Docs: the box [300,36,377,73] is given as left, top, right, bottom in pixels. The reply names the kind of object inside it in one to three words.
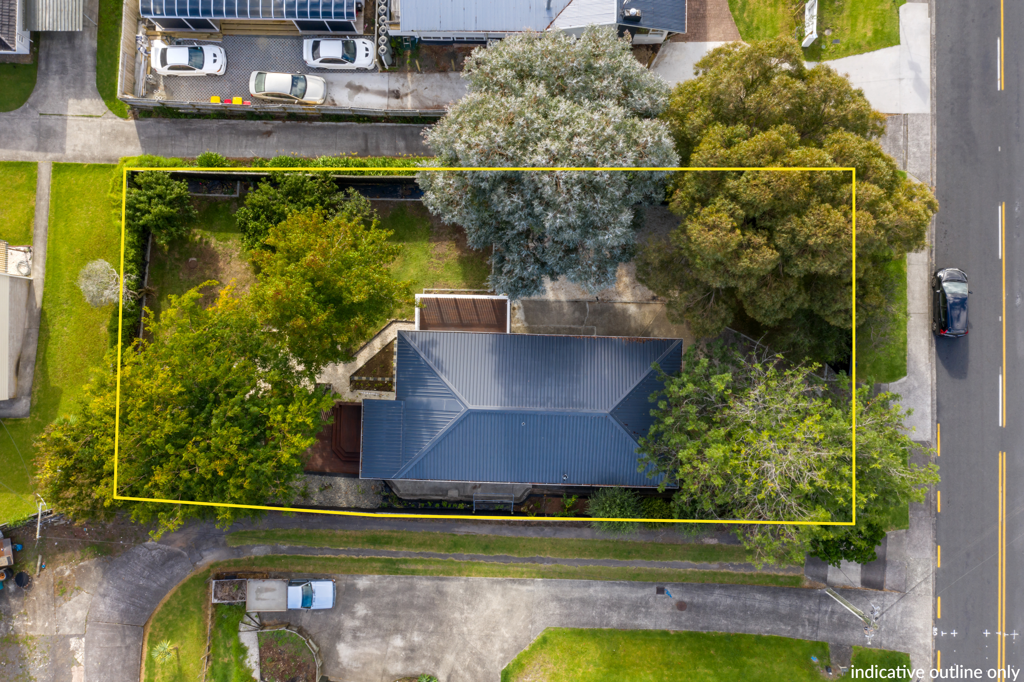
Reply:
car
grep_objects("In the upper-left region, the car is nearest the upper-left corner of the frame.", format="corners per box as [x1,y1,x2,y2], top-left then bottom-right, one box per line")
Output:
[148,42,228,79]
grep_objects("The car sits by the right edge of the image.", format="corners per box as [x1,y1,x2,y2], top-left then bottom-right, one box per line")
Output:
[933,267,973,339]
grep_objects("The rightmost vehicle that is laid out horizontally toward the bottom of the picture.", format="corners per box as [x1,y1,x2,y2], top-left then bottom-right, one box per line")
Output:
[249,579,340,614]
